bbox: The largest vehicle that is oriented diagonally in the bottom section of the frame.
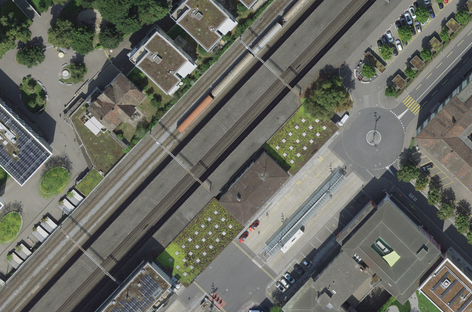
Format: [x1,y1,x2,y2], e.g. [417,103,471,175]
[282,228,304,252]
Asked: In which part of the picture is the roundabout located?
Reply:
right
